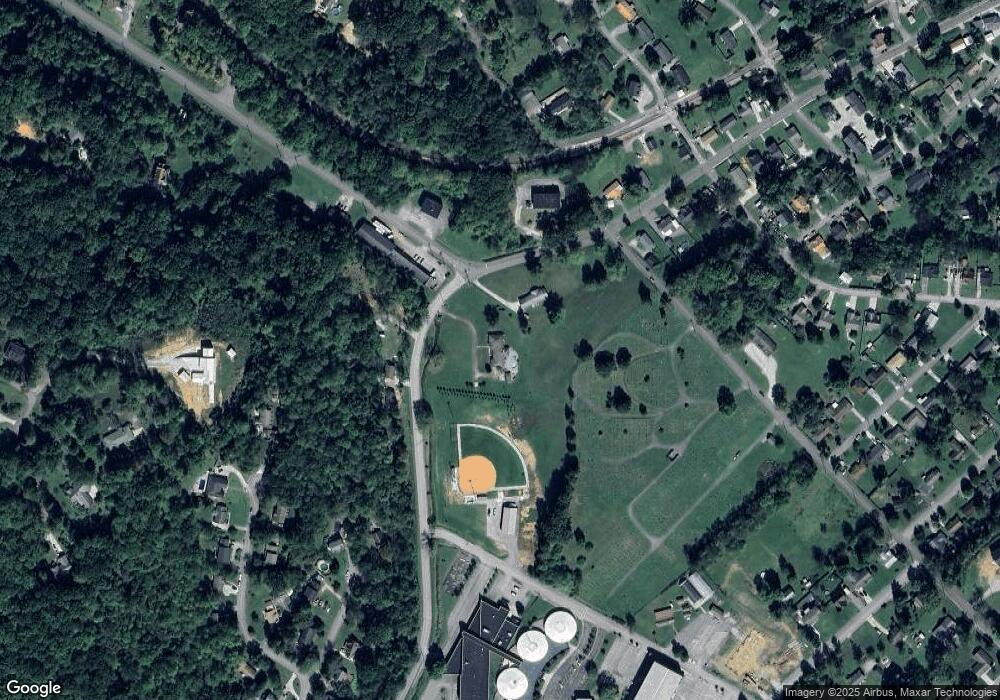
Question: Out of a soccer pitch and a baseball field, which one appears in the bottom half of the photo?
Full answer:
The feature located in the bottom half of the photo is a baseball field.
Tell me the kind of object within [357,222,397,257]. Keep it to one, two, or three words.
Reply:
building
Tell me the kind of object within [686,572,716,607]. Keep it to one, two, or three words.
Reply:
building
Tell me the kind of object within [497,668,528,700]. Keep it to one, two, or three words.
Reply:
storage tank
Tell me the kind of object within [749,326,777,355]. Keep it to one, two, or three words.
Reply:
house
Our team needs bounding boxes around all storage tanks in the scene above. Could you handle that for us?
[497,668,528,700]
[517,631,549,662]
[544,610,577,644]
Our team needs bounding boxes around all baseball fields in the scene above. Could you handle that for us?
[458,424,528,492]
